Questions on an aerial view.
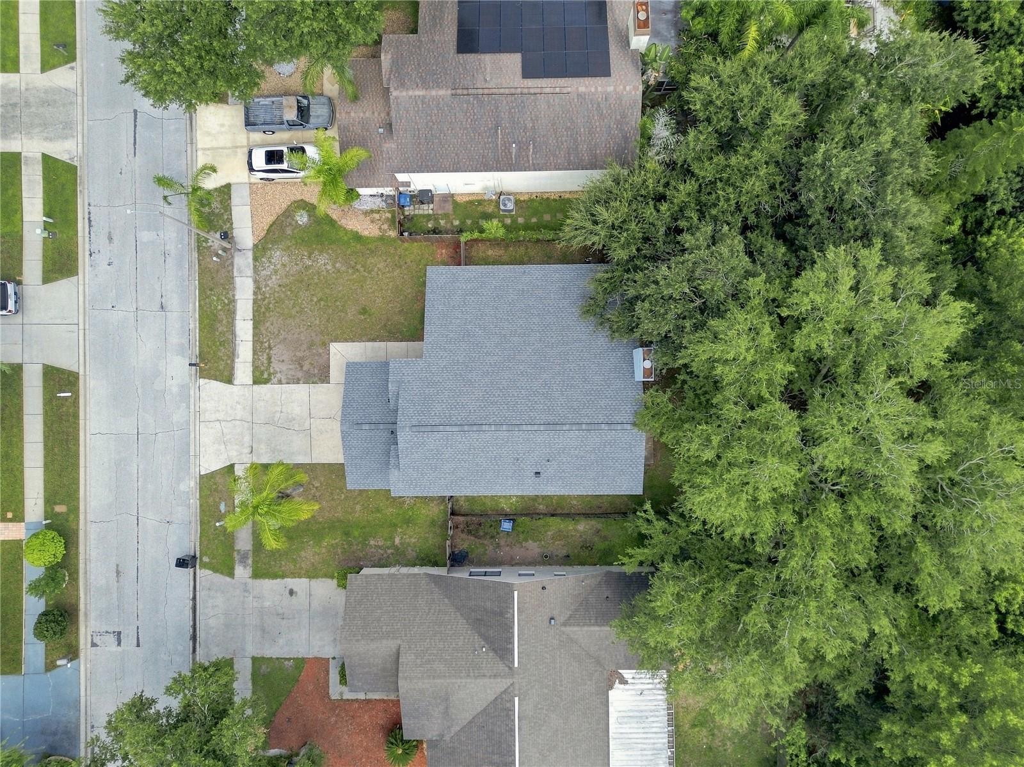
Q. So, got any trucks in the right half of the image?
No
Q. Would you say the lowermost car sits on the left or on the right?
left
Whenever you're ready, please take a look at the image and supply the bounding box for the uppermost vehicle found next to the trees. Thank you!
[242,92,336,132]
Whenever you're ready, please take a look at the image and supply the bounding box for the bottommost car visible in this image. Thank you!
[0,284,23,314]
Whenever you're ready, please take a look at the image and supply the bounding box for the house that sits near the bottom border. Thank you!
[341,564,666,767]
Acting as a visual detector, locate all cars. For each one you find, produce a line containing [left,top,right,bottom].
[0,284,23,314]
[246,144,323,182]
